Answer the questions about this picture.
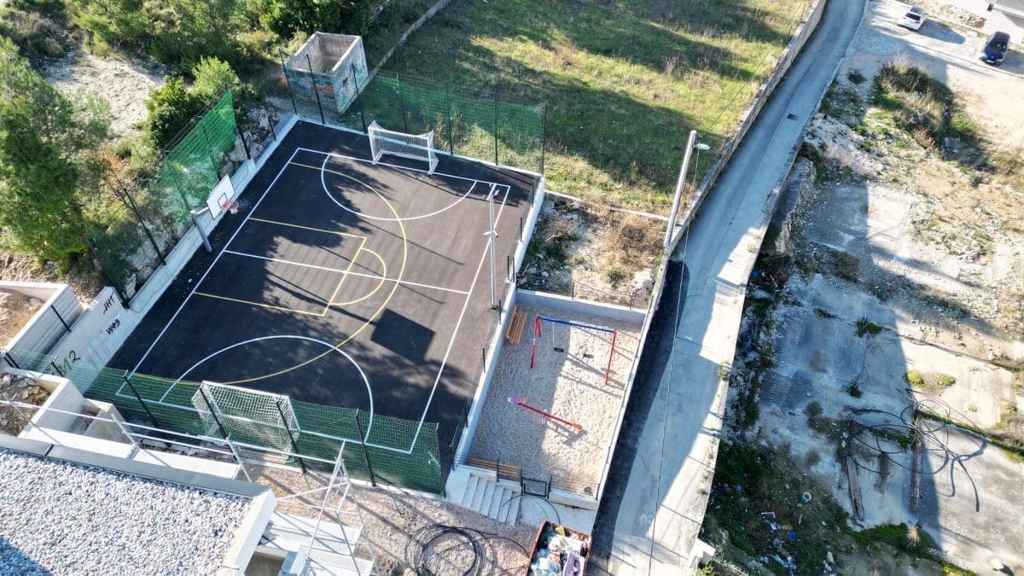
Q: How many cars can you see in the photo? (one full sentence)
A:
My tally gives 2 cars in this view.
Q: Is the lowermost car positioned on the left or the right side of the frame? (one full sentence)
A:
The lowermost car appears in the right half of the scene.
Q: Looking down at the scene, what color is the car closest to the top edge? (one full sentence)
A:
The color of the car closest to the top edge is white.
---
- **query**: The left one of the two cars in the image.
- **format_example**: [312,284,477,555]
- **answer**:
[897,2,931,29]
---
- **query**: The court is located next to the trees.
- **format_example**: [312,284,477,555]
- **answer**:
[78,118,541,497]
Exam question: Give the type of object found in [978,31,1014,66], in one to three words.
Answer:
car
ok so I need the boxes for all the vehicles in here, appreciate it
[978,31,1014,66]
[897,2,931,29]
